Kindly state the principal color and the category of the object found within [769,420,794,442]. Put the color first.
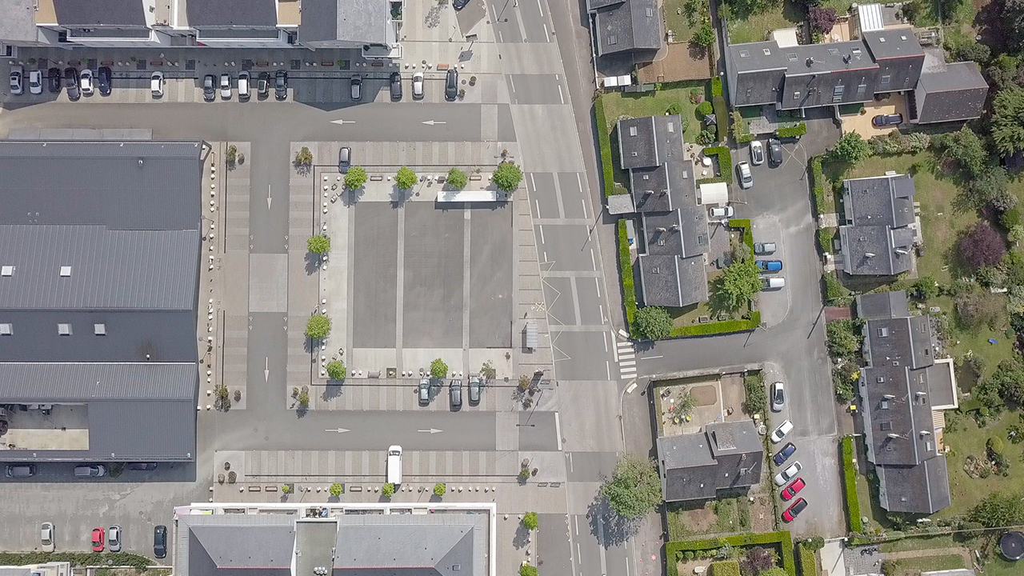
white car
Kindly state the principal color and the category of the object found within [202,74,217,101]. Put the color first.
gray car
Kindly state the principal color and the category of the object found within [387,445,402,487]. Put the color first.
white vehicle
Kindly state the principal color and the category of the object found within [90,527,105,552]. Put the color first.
red car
